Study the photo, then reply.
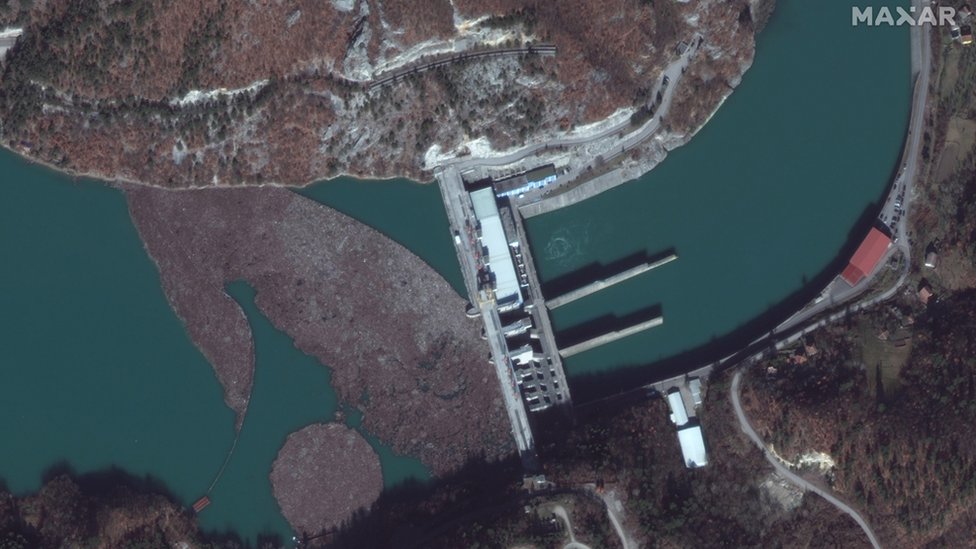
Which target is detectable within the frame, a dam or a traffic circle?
dam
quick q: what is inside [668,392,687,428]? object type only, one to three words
building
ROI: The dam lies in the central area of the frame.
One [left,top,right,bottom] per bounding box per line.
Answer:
[437,170,568,479]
